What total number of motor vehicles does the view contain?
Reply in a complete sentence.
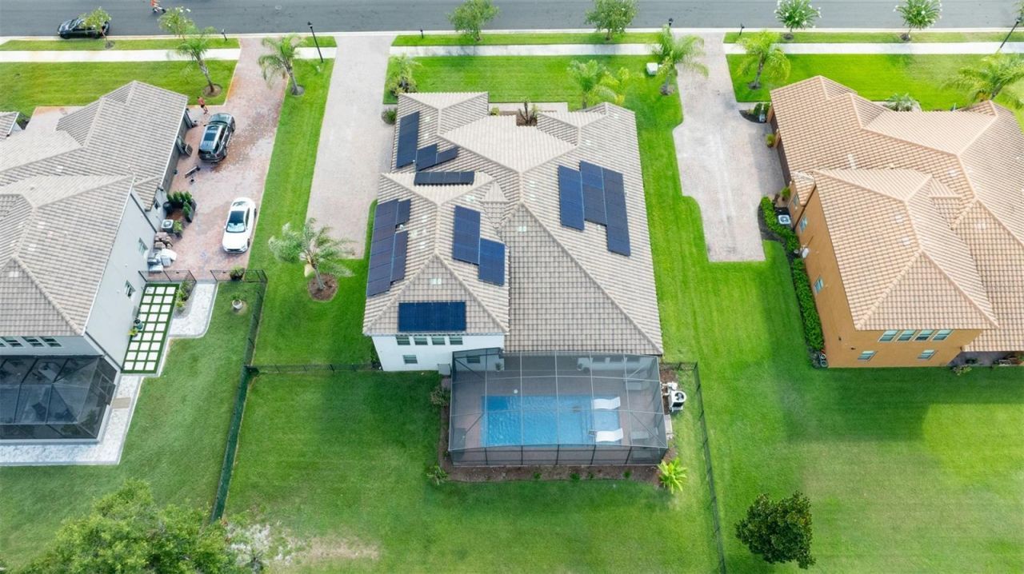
The number of motor vehicles here is 3.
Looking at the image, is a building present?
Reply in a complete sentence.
Yes, a building can be made out from above.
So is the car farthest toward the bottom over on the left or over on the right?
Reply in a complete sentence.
The car farthest toward the bottom appears in the left half of the scene.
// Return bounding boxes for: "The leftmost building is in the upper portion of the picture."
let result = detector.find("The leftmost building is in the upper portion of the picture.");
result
[0,80,190,370]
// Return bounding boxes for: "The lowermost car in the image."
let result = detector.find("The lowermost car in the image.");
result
[218,197,256,254]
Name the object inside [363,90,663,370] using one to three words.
house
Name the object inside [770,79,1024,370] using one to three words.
house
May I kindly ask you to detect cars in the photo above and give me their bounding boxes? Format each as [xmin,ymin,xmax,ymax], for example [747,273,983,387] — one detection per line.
[218,197,256,254]
[196,111,233,160]
[56,12,110,38]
